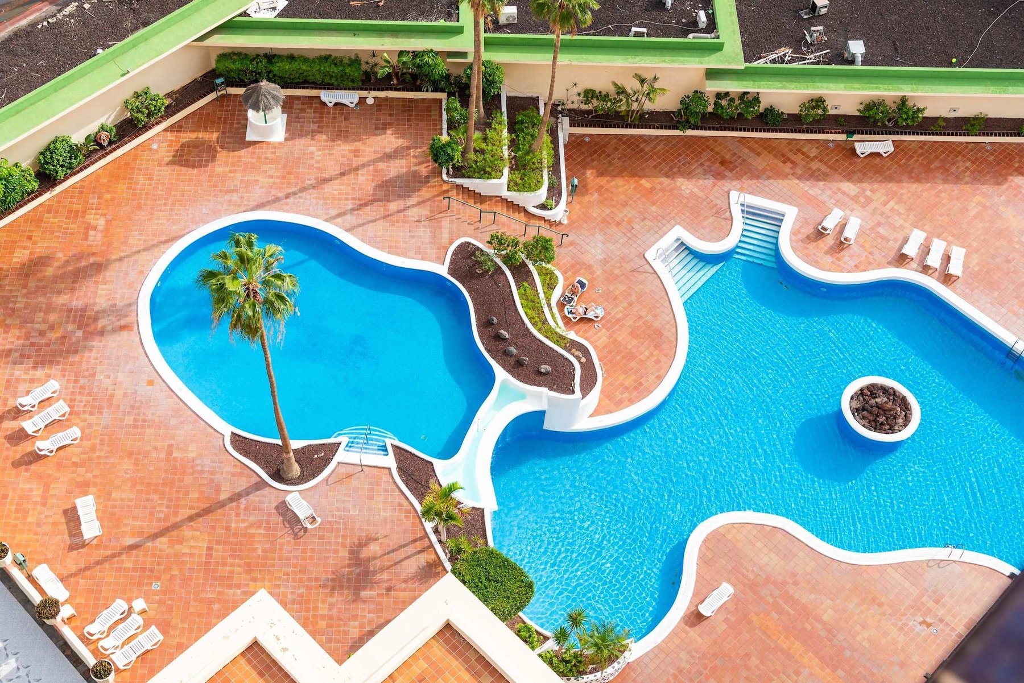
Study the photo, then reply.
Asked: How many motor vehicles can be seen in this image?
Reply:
0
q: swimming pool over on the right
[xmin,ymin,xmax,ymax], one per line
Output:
[493,190,1024,654]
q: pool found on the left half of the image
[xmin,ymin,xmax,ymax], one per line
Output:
[137,210,506,470]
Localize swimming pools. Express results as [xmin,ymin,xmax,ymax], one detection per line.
[137,210,506,470]
[493,190,1024,654]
